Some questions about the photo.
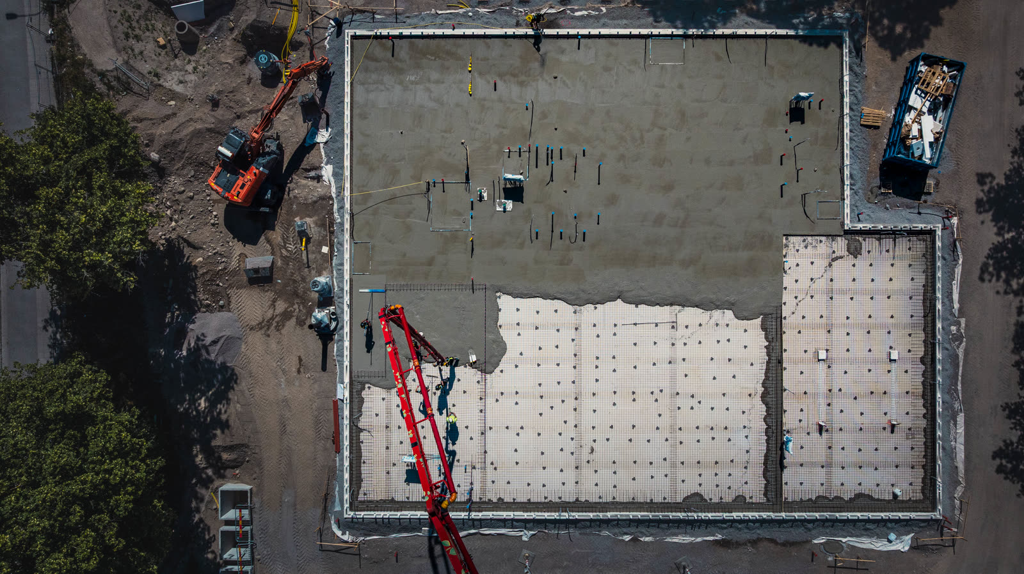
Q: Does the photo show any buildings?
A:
No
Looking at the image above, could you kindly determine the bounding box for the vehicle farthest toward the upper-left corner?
[213,54,343,209]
